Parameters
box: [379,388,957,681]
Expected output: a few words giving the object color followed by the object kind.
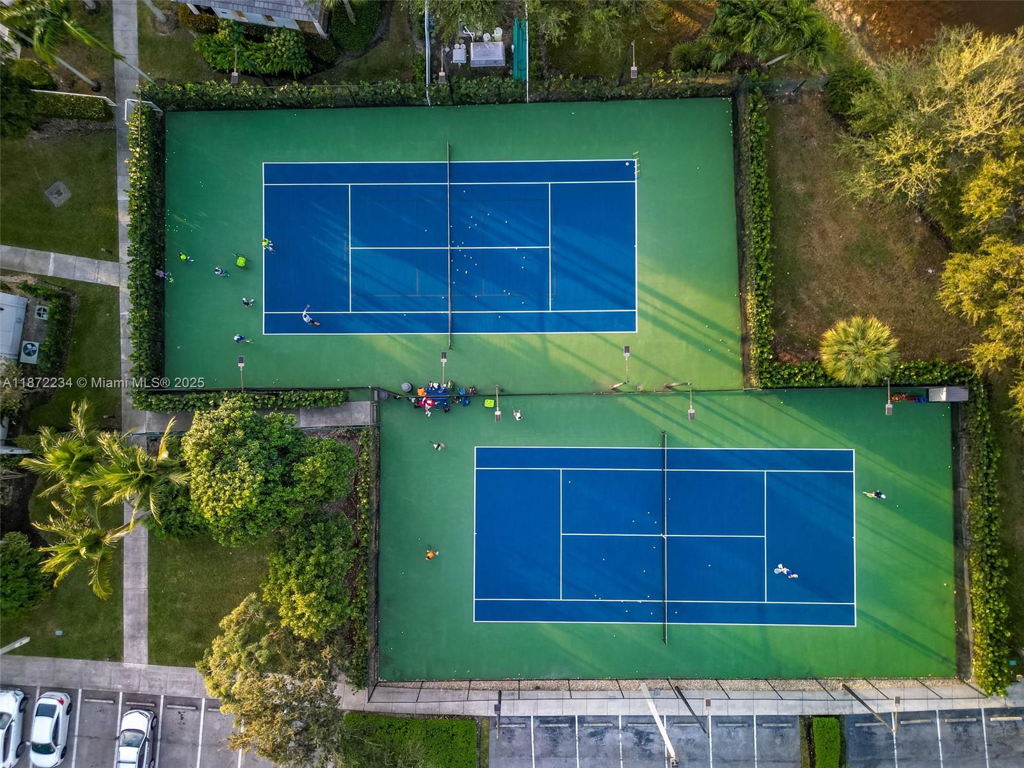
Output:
green tennis court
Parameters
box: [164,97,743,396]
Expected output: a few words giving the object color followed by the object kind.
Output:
green tennis court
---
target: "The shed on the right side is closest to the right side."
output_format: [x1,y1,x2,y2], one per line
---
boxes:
[923,386,969,402]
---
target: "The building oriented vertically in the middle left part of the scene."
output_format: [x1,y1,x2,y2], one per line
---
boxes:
[0,293,28,359]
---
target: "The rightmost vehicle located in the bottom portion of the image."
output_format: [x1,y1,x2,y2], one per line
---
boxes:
[109,708,152,768]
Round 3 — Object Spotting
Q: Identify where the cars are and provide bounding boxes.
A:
[21,694,69,768]
[109,708,152,768]
[0,696,29,768]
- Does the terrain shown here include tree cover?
Yes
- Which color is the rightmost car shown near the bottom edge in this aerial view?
white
